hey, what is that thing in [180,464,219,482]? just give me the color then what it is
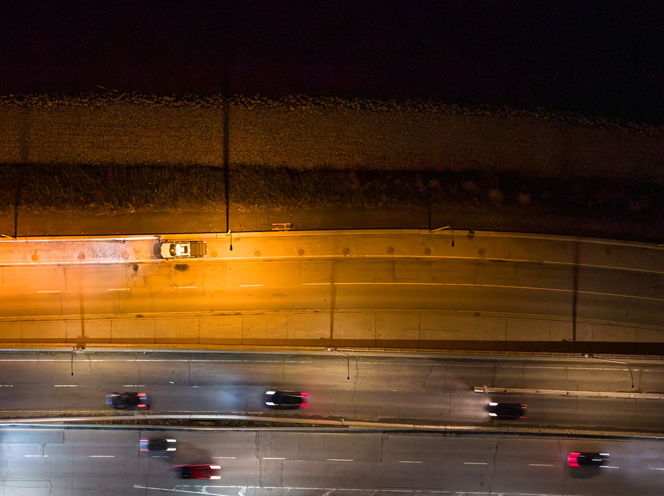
red car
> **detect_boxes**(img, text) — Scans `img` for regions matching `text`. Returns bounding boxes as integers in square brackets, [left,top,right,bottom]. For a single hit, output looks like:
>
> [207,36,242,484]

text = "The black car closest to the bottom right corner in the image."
[568,452,606,468]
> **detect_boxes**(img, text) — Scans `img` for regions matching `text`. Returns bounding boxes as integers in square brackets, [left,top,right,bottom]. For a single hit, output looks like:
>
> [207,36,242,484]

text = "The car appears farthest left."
[108,392,145,409]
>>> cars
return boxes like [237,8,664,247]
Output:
[568,452,606,468]
[141,437,175,454]
[489,403,526,419]
[267,391,307,409]
[108,392,145,409]
[180,464,219,482]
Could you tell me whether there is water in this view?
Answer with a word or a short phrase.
Yes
